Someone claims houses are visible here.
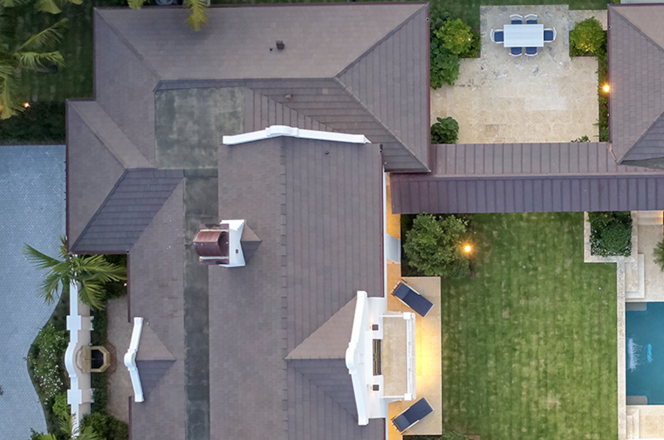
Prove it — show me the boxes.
[63,0,436,440]
[605,0,664,173]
